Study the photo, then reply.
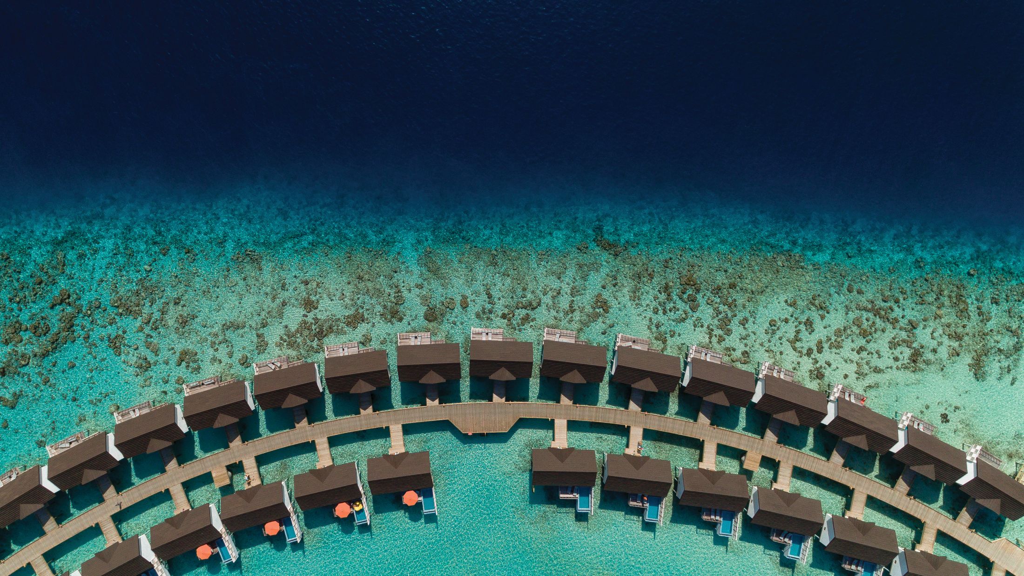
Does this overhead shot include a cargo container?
No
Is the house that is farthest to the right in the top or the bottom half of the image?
bottom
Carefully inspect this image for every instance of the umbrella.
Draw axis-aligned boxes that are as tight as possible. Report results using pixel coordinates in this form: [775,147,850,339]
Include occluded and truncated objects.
[403,491,418,506]
[335,502,351,517]
[197,544,212,559]
[265,521,280,536]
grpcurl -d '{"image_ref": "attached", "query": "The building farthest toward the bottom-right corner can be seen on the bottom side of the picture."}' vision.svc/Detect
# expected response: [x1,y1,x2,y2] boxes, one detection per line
[953,442,1024,522]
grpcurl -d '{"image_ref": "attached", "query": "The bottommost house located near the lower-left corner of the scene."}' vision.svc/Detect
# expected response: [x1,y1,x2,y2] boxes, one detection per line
[0,462,64,529]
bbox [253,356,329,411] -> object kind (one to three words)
house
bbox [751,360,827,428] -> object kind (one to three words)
house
